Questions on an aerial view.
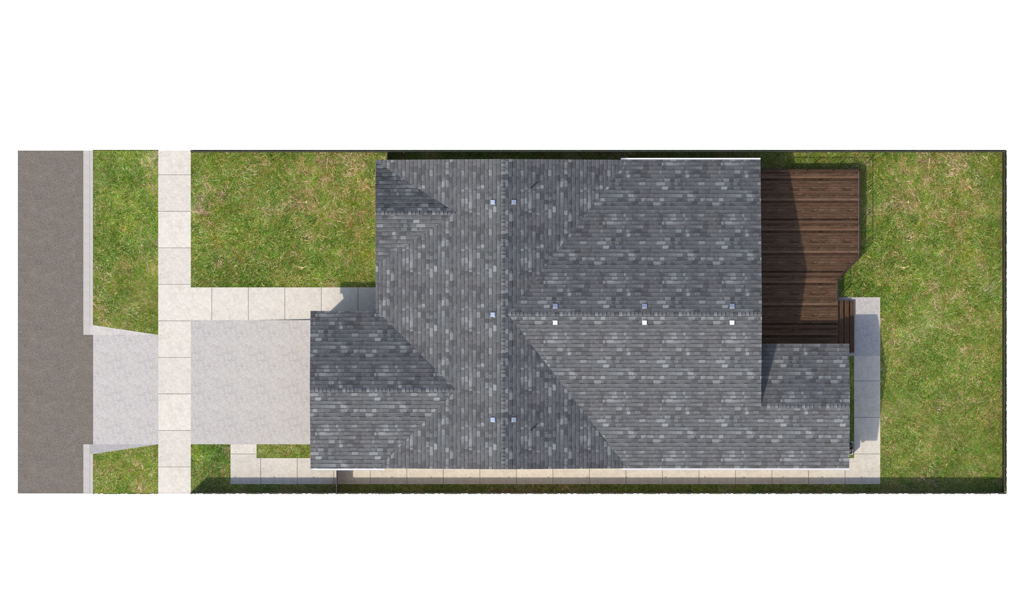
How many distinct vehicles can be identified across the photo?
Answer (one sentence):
Not a single vehicle can be seen.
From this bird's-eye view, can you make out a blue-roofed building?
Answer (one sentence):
No, the scene contains no blue-roofed building.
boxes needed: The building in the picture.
[310,158,850,470]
